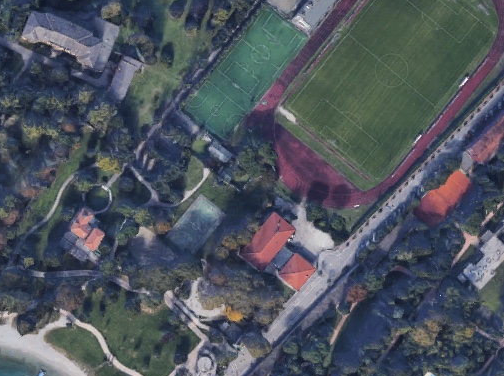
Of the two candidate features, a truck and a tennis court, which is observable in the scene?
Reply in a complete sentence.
It is a tennis court that can be seen here.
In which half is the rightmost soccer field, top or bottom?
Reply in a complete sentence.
You can find the rightmost soccer field in the top half.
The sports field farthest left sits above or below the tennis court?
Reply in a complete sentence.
In the image, the sports field farthest left appears above the tennis court.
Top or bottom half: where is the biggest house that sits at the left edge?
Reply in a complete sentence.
You can find the biggest house that sits at the left edge in the top half.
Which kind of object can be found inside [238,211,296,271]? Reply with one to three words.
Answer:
house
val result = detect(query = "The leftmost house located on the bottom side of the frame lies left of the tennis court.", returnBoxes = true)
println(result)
[60,208,105,255]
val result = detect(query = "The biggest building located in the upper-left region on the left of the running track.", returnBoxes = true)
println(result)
[22,10,120,72]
